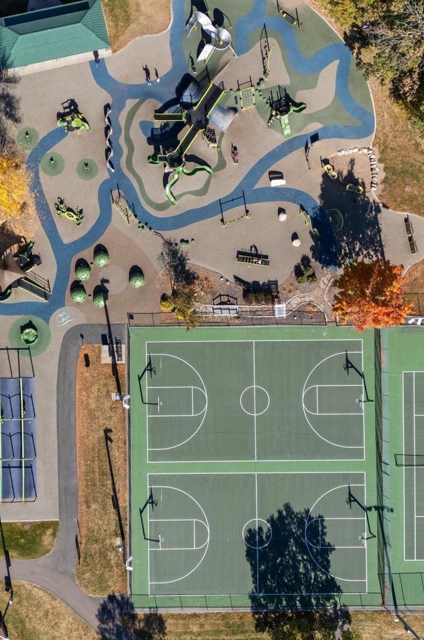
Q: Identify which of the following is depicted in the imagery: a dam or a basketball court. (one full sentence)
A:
There is a basketball court in the scene.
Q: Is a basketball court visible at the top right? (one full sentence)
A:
No, there's no basketball court to be seen at the top right.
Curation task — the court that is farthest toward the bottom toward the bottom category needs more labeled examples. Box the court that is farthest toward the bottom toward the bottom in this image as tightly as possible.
[148,472,368,595]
